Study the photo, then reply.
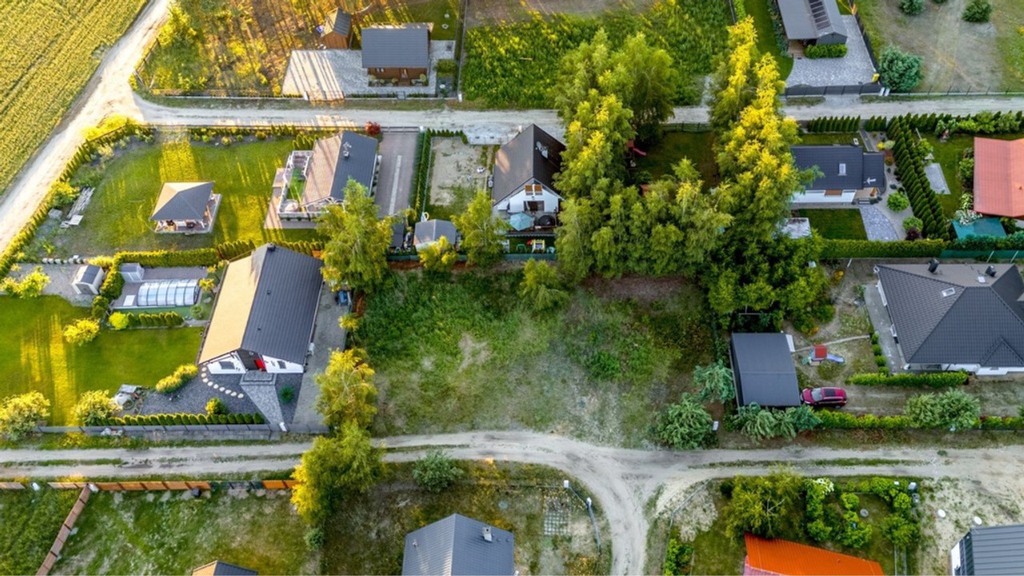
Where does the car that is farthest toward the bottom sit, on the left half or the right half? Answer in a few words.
right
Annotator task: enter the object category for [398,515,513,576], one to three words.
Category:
house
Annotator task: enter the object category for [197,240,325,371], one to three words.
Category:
house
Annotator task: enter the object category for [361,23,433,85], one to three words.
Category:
building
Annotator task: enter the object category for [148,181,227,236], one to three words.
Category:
gazebo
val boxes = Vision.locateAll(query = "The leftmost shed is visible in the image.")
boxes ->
[67,263,103,296]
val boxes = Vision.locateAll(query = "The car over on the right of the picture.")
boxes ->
[802,388,853,411]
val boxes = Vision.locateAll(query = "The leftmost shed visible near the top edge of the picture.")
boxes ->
[319,8,353,50]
